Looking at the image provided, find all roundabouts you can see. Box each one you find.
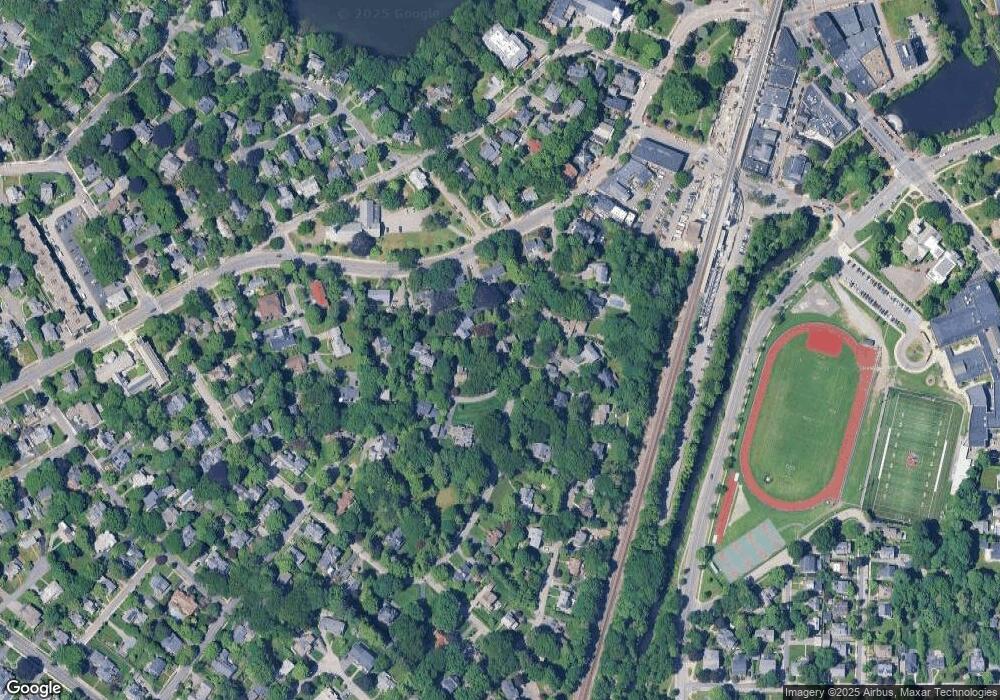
[896,334,934,371]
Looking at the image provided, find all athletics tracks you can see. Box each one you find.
[742,321,878,512]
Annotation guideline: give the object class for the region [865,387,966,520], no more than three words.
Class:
sports field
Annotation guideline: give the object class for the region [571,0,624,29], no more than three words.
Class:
building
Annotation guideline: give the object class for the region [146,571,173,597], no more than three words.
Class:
house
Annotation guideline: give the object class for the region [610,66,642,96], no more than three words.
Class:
house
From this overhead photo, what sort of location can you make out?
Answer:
residential area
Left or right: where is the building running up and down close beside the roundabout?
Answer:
right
